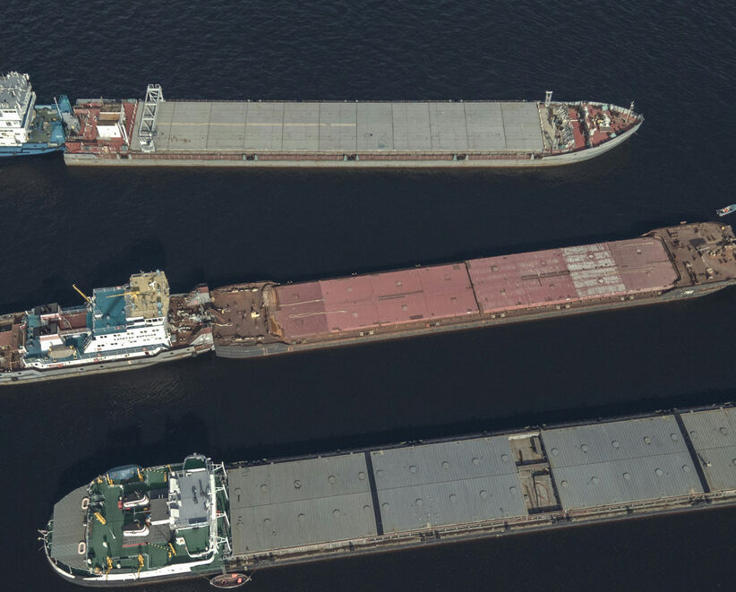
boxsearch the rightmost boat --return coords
[716,205,736,217]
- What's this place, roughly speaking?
port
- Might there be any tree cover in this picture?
No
